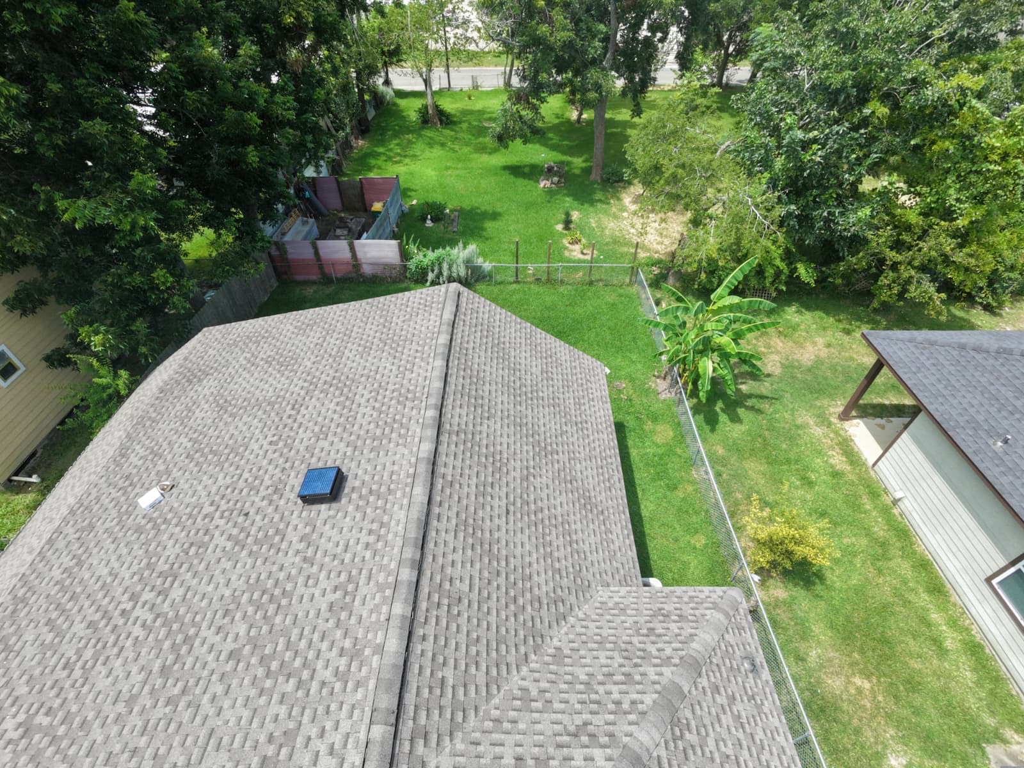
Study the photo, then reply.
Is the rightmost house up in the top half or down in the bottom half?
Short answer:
bottom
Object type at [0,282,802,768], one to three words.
house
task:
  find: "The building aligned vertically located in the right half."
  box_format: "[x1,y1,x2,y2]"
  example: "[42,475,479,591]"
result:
[843,330,1024,705]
